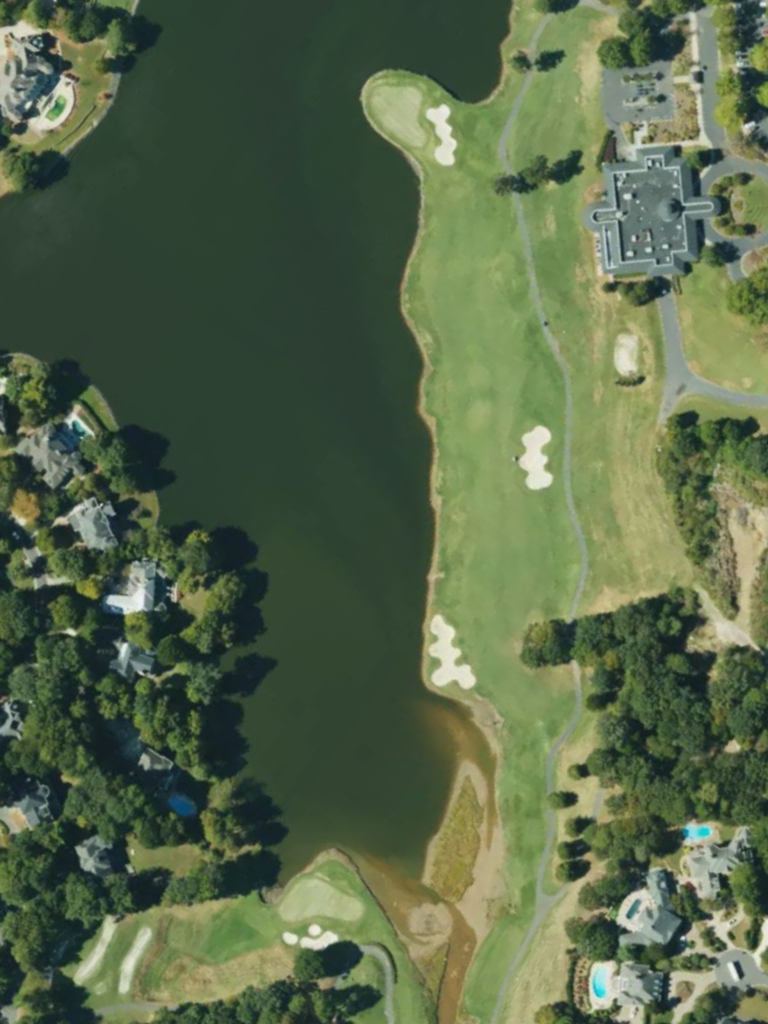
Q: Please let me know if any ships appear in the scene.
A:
No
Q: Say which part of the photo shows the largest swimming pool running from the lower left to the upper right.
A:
top left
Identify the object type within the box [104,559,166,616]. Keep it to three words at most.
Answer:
house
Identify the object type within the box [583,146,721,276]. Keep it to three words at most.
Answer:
building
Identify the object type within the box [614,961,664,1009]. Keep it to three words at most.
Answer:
house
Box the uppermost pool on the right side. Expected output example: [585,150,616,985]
[682,824,712,841]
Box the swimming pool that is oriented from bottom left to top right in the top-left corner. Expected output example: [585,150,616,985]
[46,94,67,121]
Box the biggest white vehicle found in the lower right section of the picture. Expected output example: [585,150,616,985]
[727,961,740,981]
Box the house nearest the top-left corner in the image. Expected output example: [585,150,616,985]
[1,39,59,126]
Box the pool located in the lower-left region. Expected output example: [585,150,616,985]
[167,794,197,818]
